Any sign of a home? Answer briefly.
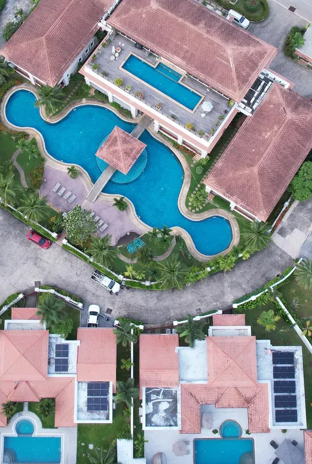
Yes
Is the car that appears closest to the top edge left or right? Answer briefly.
right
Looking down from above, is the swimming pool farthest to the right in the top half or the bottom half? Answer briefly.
bottom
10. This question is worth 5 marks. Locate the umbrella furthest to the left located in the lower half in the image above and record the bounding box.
[171,439,189,458]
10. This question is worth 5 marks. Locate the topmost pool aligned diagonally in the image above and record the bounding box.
[119,51,205,115]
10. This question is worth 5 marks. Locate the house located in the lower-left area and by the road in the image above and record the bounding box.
[0,307,117,427]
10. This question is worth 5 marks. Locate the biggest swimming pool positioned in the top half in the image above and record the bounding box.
[2,81,242,264]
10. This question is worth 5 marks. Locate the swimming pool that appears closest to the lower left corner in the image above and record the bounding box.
[0,414,65,464]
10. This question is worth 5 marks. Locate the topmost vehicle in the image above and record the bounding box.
[224,7,250,28]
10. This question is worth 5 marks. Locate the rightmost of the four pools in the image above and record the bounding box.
[190,417,258,464]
